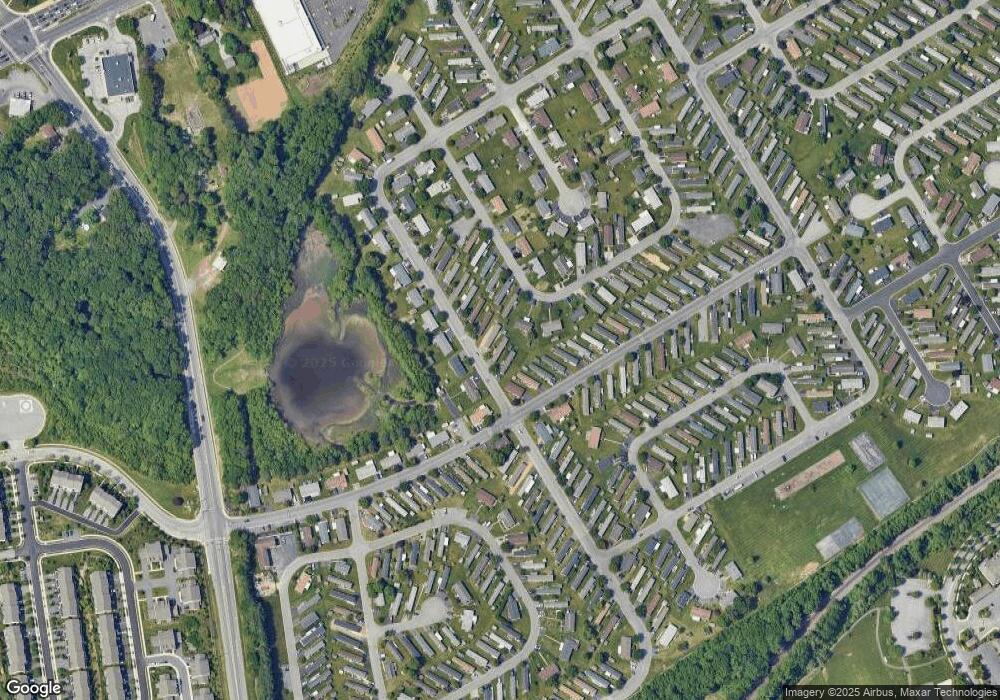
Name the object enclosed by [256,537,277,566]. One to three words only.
building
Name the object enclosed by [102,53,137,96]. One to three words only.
building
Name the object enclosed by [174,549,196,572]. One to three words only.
house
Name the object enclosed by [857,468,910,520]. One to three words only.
tennis court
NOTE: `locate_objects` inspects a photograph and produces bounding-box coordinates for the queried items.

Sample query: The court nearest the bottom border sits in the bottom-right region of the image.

[816,517,863,560]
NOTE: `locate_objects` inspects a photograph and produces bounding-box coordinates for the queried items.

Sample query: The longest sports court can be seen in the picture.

[775,450,845,500]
